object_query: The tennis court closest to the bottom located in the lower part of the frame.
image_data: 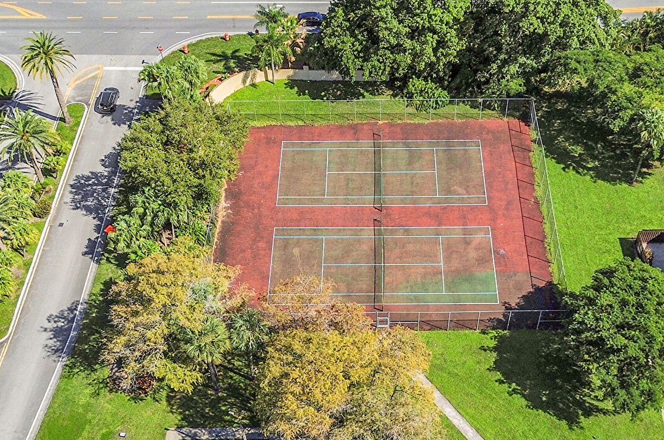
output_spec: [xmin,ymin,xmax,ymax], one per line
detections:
[269,227,498,304]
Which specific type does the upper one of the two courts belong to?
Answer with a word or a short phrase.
tennis court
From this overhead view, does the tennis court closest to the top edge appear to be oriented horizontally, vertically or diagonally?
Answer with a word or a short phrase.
horizontally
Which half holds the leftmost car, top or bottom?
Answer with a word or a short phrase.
top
